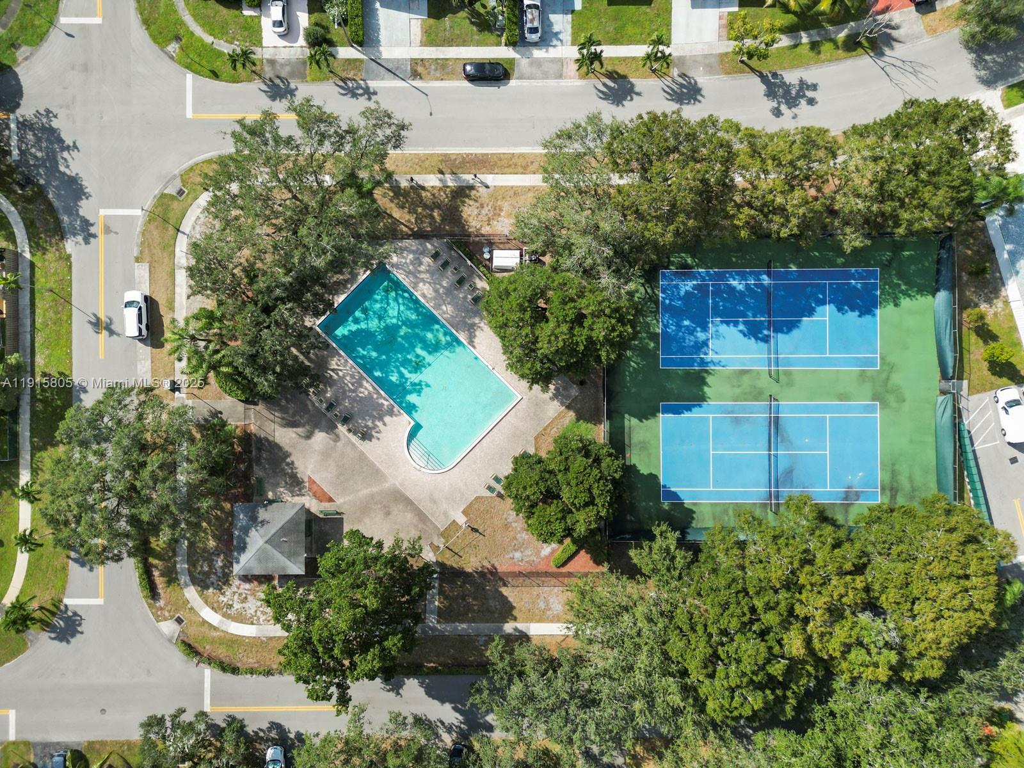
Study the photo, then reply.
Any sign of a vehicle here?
Yes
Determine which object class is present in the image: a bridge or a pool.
pool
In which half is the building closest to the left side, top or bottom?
bottom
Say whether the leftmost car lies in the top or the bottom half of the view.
bottom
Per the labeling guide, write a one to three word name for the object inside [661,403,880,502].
tennis court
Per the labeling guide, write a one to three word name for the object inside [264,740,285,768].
car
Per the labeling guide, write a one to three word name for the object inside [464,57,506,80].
car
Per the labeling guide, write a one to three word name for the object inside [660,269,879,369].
tennis court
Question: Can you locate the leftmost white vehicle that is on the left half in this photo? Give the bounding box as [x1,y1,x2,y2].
[120,290,146,337]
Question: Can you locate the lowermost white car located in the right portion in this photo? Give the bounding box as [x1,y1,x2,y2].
[993,388,1024,445]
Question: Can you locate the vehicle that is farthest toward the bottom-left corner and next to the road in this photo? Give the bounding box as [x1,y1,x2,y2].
[52,744,77,768]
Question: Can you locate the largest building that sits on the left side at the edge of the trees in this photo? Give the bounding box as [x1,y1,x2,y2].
[233,501,310,575]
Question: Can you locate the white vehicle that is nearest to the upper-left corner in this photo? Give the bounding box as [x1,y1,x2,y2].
[267,0,289,37]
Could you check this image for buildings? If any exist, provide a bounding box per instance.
[495,254,523,277]
[979,208,1024,367]
[233,501,310,575]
